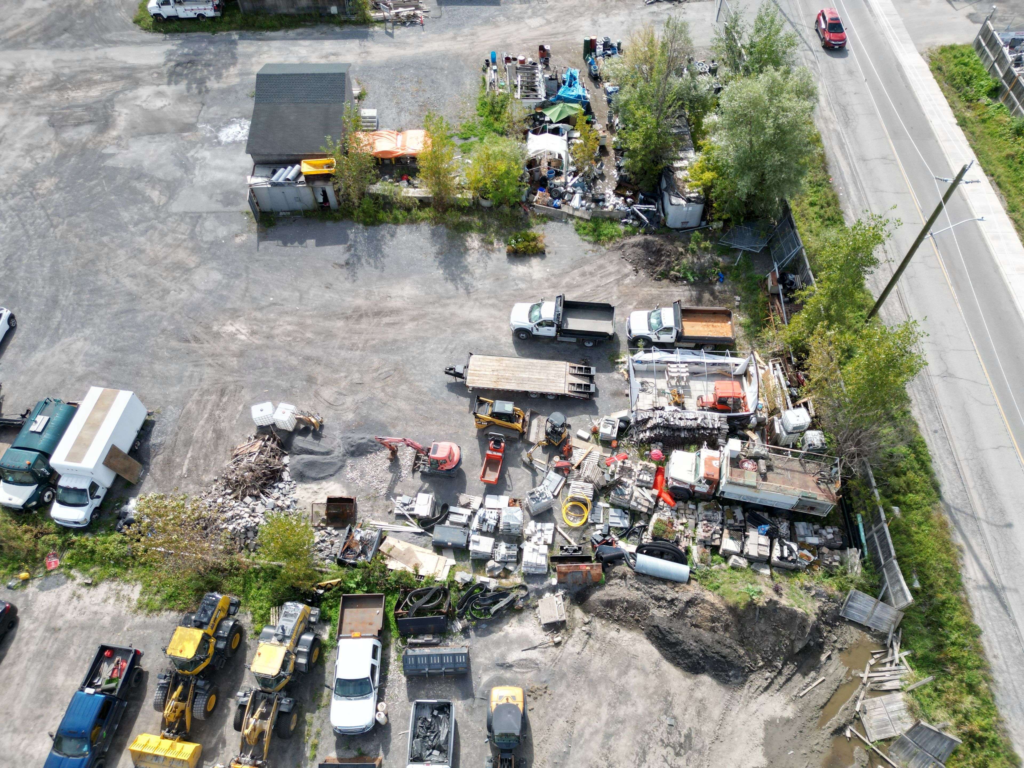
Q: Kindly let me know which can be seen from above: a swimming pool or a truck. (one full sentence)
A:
I can see a truck in this picture.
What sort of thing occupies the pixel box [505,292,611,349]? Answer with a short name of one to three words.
truck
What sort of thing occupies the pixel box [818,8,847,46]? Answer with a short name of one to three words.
car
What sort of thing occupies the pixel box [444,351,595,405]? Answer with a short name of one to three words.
trailer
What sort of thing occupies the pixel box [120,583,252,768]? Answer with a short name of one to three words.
work vehicle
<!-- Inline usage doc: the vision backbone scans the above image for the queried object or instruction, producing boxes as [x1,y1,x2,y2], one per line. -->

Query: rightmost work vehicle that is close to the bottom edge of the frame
[484,695,533,768]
